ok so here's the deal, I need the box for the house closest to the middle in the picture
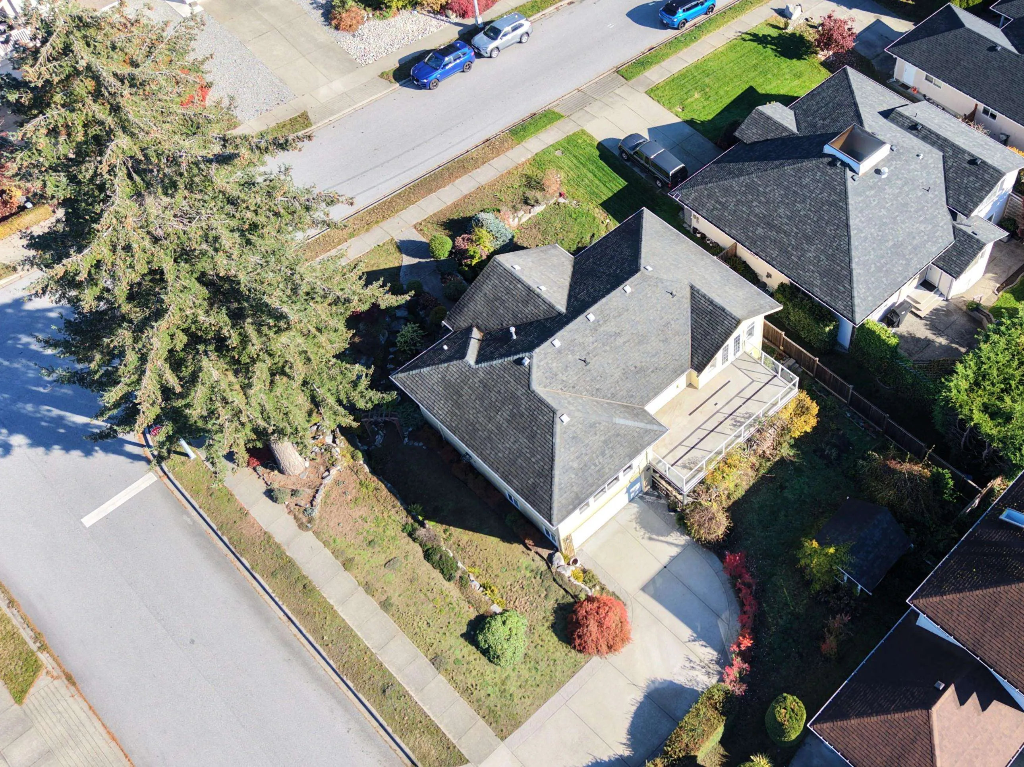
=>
[390,207,783,554]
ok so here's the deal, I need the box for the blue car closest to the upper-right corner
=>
[658,0,717,30]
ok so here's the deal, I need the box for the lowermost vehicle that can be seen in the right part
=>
[617,133,688,187]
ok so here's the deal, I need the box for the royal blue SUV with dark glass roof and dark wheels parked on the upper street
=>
[407,41,475,90]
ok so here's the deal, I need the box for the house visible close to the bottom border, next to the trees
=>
[807,472,1024,767]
